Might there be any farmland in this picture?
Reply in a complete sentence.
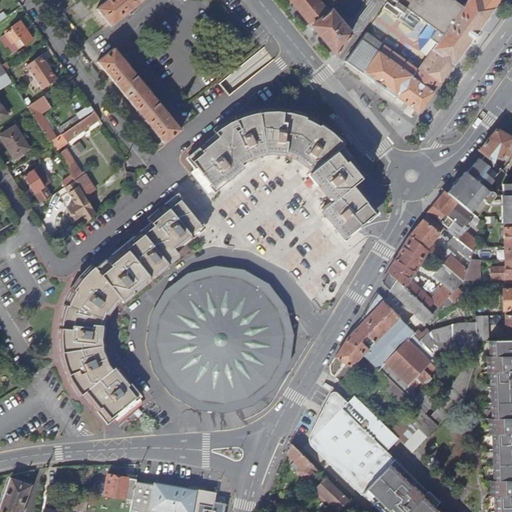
No, farmland can't be seen anywhere here.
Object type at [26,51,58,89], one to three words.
house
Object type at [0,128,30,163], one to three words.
house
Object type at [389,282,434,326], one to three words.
shed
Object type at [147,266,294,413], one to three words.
building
